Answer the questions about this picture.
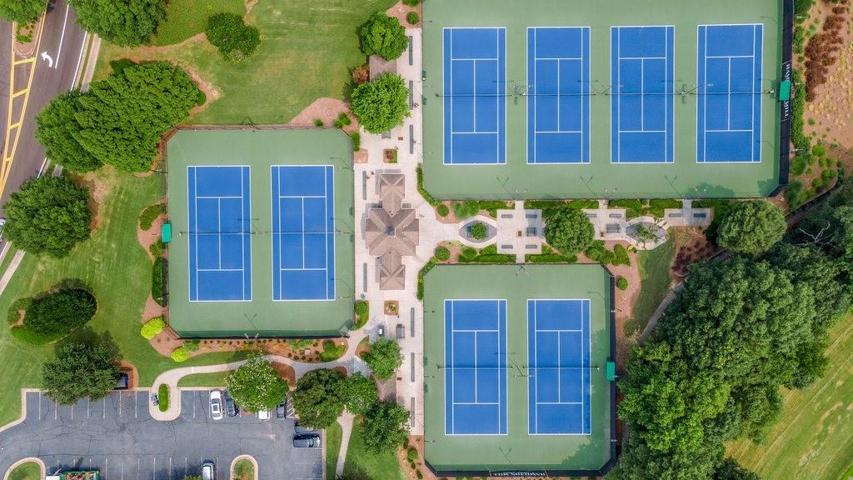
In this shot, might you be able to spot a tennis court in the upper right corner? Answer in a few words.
Yes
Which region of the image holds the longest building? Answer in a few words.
center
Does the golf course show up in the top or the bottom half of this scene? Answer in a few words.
bottom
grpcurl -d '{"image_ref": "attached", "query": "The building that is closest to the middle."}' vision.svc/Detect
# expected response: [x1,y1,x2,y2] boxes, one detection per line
[366,172,420,291]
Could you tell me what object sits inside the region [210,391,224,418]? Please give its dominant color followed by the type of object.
white car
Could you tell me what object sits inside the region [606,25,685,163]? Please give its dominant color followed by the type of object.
blue tennis court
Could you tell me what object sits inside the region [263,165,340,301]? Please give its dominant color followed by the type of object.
blue tennis court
